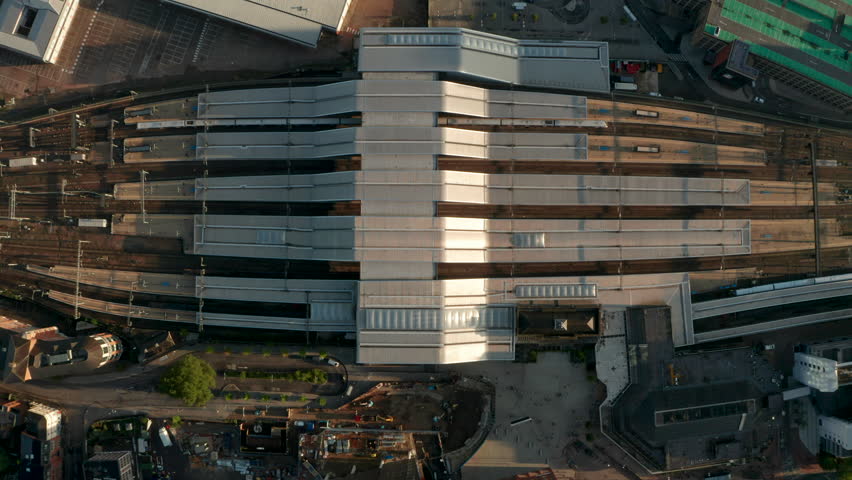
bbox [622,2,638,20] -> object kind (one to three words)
vehicle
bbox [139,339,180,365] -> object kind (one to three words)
shed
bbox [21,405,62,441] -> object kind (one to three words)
building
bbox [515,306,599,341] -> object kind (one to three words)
building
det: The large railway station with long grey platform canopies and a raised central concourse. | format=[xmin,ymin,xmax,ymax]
[27,27,852,364]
